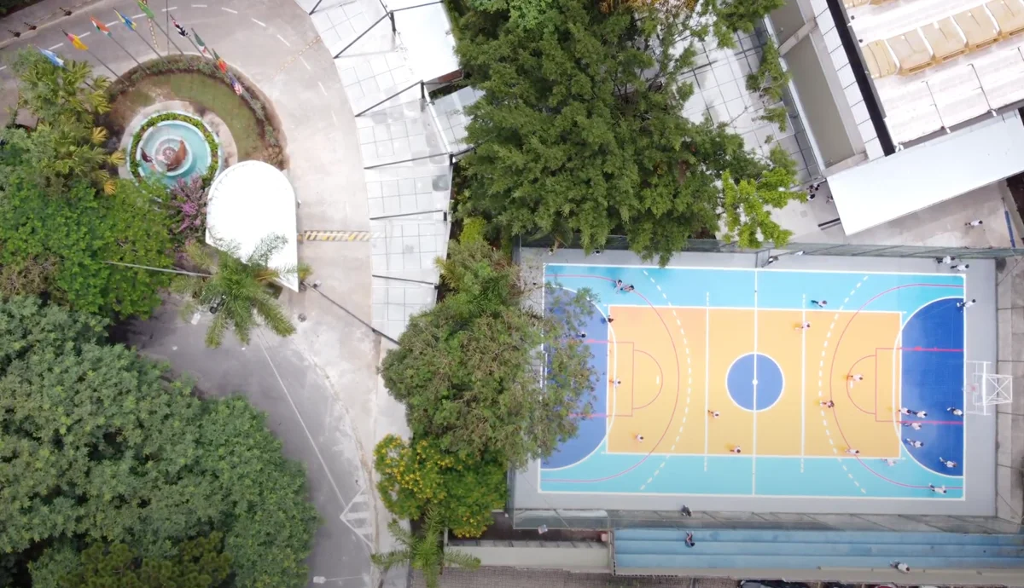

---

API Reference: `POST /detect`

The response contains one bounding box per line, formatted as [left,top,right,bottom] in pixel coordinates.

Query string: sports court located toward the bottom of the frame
[516,248,998,517]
